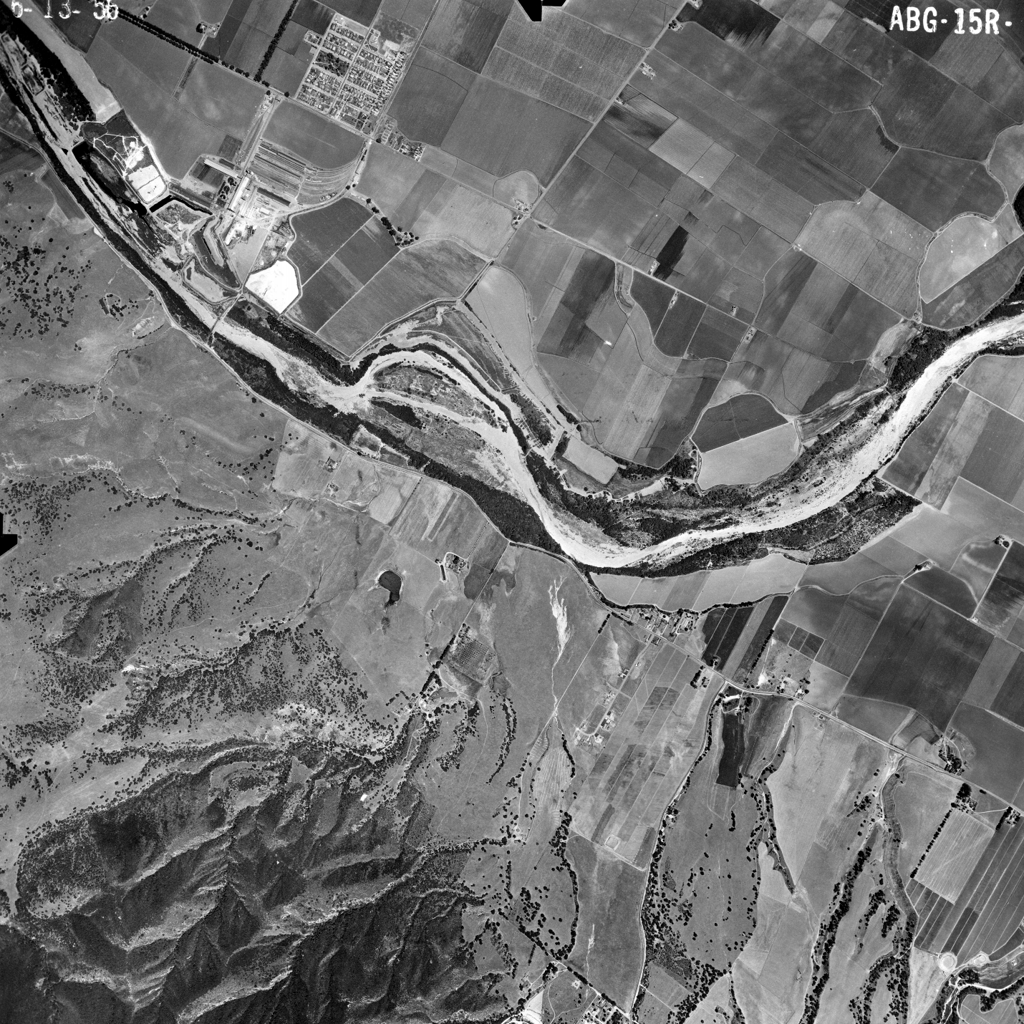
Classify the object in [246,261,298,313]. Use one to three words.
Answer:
pond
